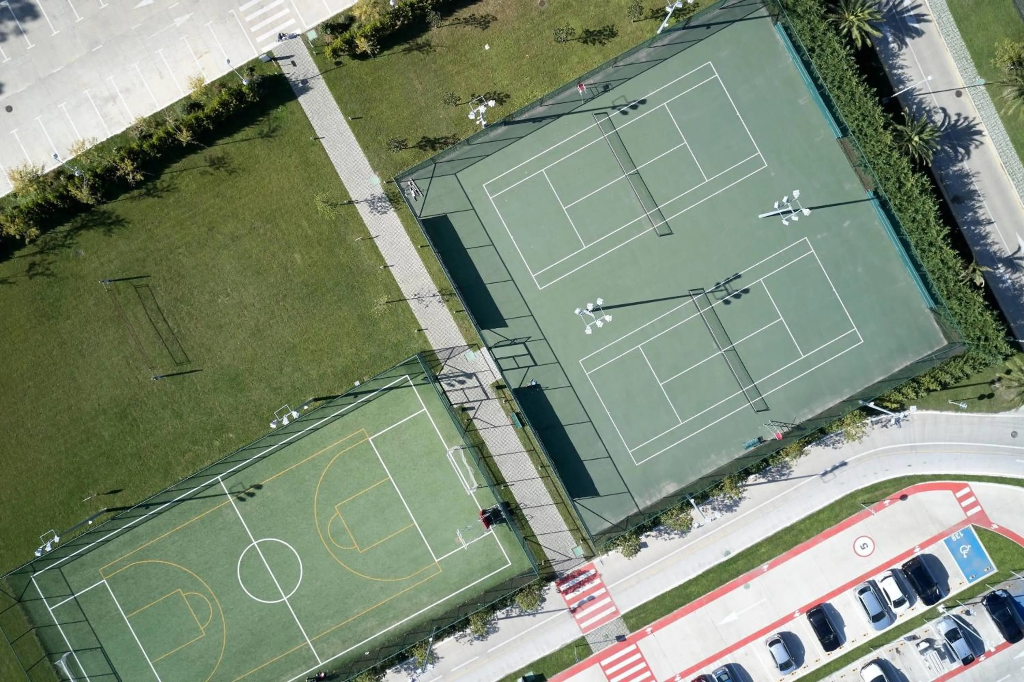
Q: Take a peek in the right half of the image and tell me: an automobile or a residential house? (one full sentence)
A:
The one visible in the right half of the image is an automobile.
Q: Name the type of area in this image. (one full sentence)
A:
This image shows a sports ground.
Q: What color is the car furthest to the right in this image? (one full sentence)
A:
The color of the car furthest to the right is black.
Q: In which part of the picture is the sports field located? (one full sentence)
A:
The sports field sits in the bottom left section of the image.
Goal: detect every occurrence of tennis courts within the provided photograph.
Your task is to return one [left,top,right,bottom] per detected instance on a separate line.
[497,166,949,537]
[399,0,852,360]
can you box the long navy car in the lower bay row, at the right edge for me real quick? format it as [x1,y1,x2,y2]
[982,590,1024,646]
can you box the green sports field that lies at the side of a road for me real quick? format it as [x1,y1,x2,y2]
[4,350,537,682]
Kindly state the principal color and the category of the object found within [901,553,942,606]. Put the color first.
black car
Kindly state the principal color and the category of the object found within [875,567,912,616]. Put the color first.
white car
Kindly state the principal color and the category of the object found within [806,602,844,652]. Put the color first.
black car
